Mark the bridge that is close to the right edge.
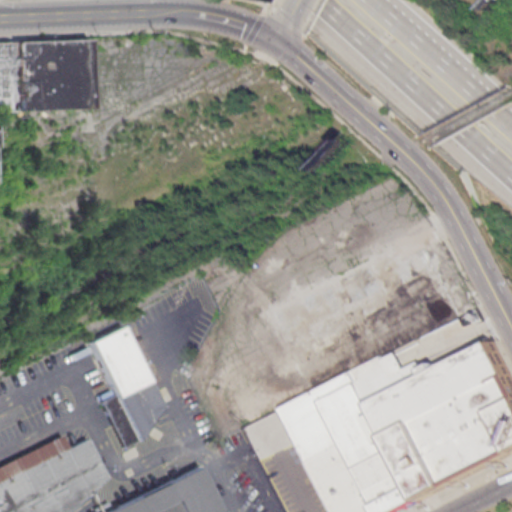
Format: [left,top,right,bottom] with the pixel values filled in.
[415,86,512,150]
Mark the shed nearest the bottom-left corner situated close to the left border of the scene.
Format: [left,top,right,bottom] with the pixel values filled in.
[0,436,116,512]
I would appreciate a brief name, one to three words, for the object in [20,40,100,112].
building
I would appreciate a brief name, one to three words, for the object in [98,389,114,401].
vehicle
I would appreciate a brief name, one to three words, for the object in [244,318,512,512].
building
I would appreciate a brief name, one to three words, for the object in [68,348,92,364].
vehicle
